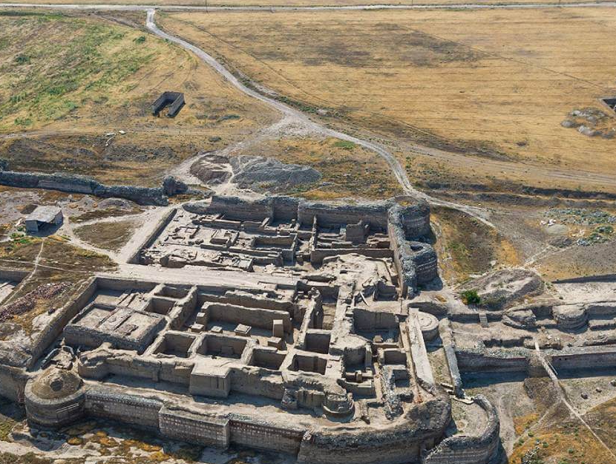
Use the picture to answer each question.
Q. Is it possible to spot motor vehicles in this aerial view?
No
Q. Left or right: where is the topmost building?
left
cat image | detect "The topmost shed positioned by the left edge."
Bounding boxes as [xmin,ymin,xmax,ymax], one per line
[23,204,64,234]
